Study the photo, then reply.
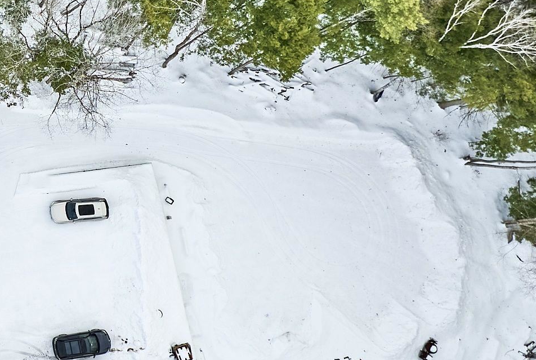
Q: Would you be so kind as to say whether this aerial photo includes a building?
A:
No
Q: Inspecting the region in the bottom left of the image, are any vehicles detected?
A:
Yes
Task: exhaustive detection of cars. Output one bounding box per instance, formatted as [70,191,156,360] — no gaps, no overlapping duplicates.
[47,196,111,225]
[50,329,112,360]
